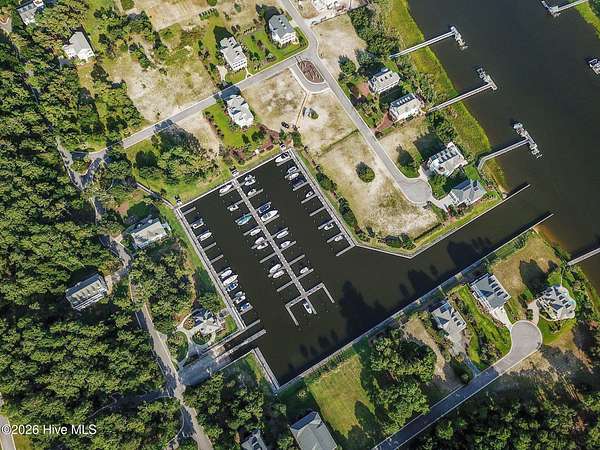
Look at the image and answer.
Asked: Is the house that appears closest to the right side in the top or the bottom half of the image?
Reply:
bottom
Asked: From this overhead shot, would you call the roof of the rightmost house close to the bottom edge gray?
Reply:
Yes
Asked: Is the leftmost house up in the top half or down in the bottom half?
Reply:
top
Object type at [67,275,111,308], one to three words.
house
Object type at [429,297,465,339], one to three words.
house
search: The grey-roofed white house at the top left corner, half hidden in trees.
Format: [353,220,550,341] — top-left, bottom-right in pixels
[16,0,47,29]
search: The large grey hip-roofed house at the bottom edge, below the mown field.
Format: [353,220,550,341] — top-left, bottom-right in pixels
[294,412,341,450]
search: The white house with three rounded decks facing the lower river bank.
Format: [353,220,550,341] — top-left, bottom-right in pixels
[533,285,577,322]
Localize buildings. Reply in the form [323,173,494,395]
[429,297,465,339]
[190,306,230,338]
[67,275,111,308]
[219,34,250,77]
[465,271,507,308]
[226,94,254,130]
[533,285,577,322]
[363,68,401,100]
[244,427,273,450]
[315,0,346,14]
[270,13,296,50]
[294,412,341,450]
[425,144,468,176]
[386,93,425,125]
[446,179,487,206]
[64,32,101,64]
[124,215,172,250]
[16,0,47,29]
